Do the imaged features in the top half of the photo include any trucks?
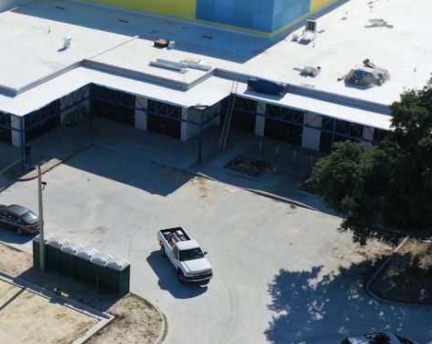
No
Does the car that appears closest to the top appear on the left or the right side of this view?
left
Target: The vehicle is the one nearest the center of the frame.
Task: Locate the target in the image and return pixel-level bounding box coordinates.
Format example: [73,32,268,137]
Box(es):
[160,228,213,285]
